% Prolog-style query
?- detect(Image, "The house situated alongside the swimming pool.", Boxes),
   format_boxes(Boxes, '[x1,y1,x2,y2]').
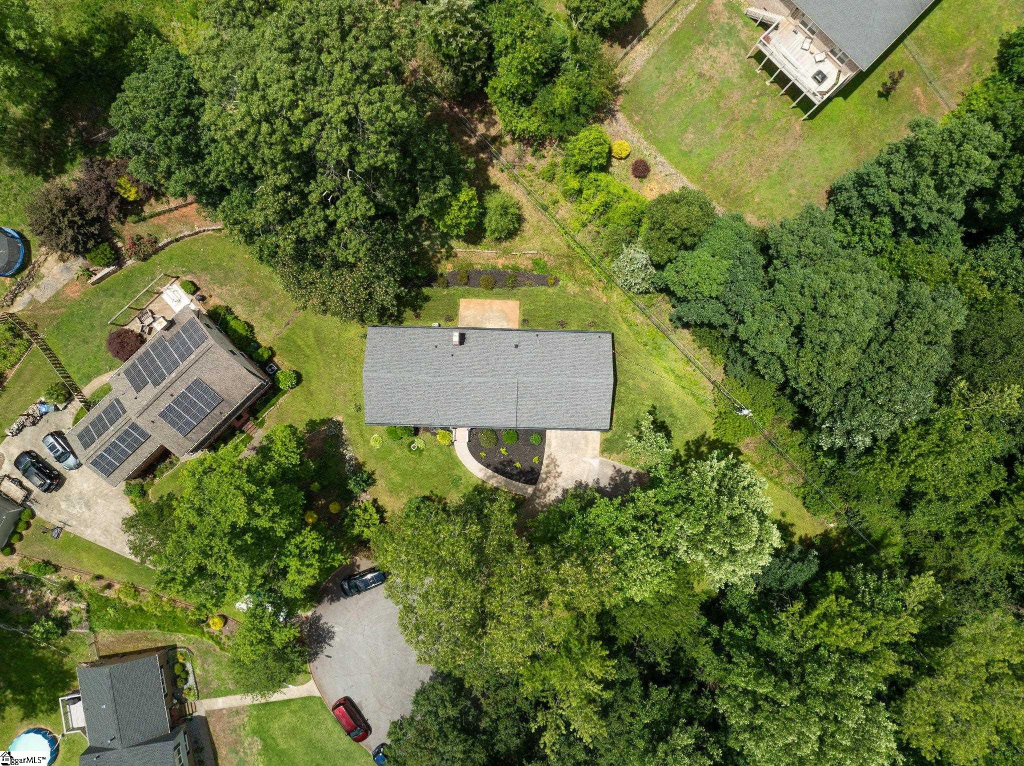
[76,646,201,766]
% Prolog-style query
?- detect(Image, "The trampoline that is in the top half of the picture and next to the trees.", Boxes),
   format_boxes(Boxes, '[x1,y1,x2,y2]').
[0,227,27,276]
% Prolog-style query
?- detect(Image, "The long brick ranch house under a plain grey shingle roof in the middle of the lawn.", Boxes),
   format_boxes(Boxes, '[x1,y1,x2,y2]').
[363,325,614,432]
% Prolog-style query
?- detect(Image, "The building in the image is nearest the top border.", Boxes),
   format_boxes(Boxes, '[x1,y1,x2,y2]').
[742,0,936,93]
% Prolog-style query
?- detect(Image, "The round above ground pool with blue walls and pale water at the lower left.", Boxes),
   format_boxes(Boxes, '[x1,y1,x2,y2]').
[6,722,65,766]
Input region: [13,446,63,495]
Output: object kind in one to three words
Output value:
car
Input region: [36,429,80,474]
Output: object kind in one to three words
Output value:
car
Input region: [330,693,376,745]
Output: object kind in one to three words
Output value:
van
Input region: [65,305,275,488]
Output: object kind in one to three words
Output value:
house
